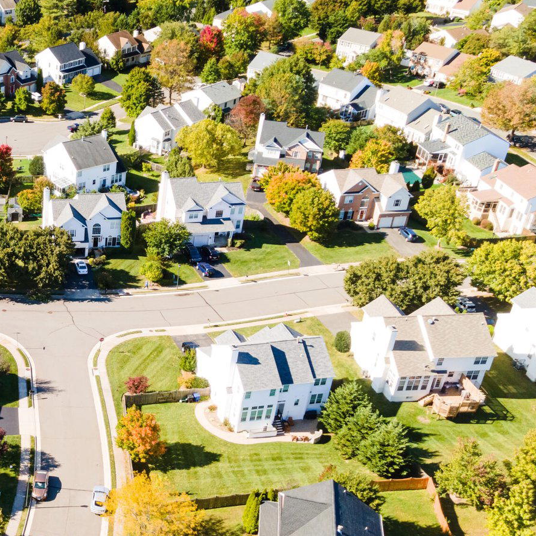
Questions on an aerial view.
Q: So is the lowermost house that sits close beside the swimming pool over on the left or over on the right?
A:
right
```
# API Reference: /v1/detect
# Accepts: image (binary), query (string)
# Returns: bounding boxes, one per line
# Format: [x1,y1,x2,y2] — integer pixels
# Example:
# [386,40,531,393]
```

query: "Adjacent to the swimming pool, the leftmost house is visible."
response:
[331,148,404,233]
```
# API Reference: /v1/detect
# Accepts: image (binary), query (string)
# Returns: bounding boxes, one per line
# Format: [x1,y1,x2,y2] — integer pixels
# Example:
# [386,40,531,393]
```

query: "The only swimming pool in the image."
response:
[401,165,421,184]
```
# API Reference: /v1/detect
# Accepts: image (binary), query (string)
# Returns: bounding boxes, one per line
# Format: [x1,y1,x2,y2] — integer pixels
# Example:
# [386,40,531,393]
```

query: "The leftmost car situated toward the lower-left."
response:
[32,469,49,499]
